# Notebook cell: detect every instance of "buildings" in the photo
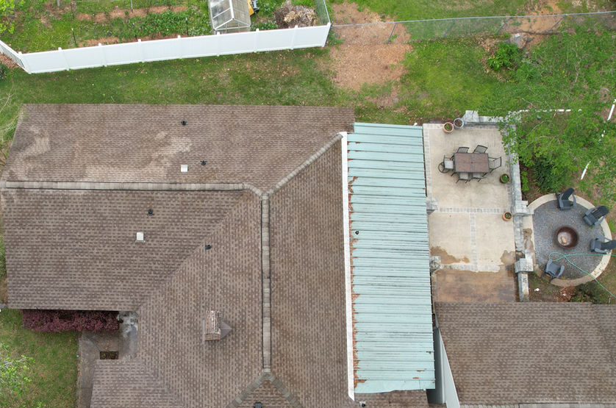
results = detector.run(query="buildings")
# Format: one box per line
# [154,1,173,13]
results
[0,102,434,408]
[213,0,253,34]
